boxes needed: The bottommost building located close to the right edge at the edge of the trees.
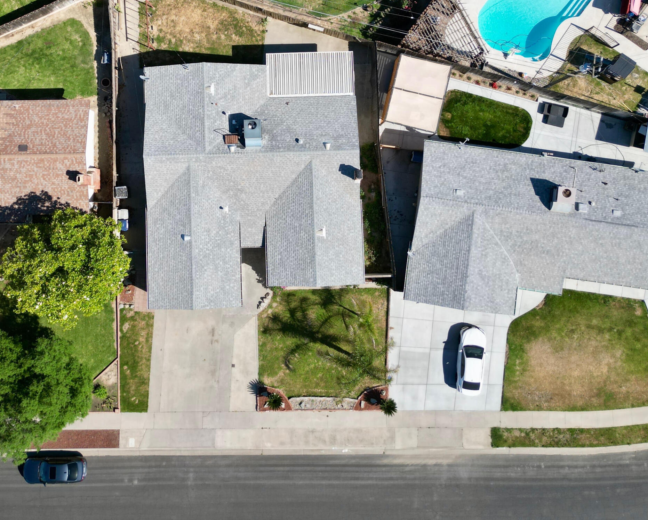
[402,139,648,315]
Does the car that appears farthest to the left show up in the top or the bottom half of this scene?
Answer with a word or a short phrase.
bottom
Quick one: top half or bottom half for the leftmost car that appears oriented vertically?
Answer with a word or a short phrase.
bottom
